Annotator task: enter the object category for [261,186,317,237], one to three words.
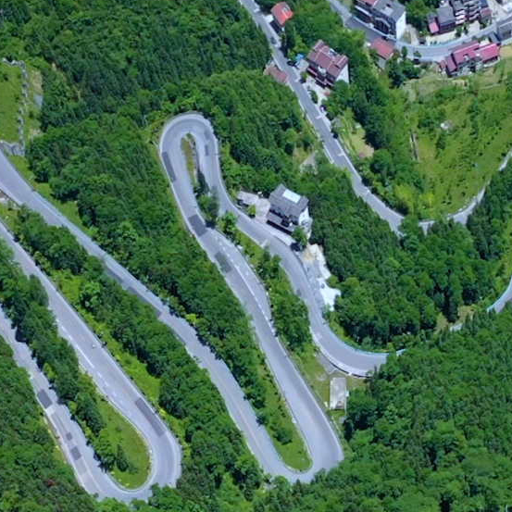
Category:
house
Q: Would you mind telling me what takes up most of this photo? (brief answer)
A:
trees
